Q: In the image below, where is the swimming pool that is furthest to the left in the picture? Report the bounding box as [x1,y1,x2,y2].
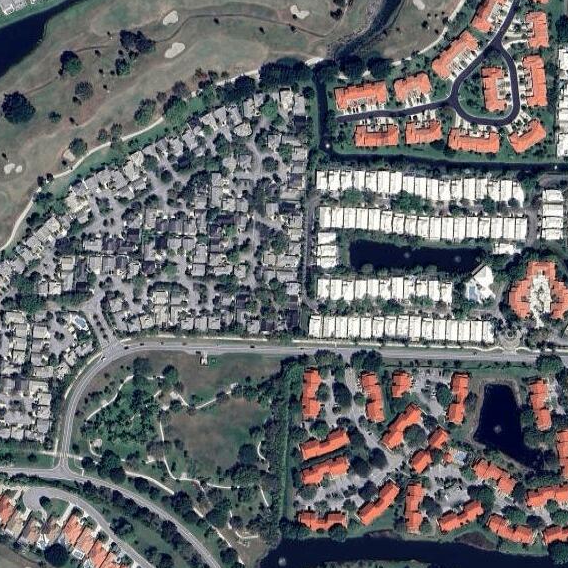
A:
[73,313,90,332]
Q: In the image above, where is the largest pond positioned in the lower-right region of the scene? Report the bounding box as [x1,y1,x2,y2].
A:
[472,383,558,470]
